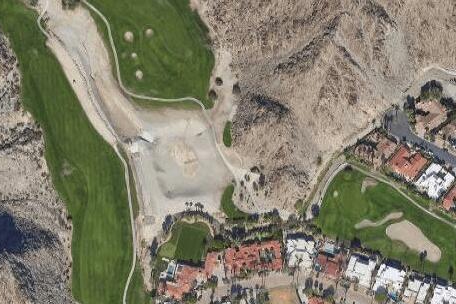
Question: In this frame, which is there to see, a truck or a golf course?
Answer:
golf course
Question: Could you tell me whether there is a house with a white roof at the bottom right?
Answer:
Yes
